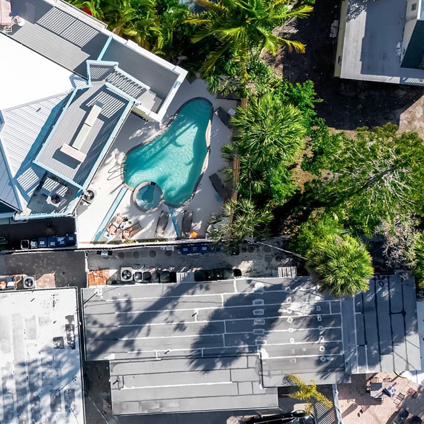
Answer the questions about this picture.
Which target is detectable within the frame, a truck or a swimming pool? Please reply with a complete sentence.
This aerial view contains a swimming pool.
